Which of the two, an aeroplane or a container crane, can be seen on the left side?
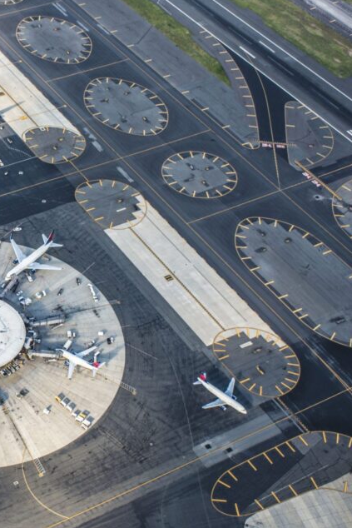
aeroplane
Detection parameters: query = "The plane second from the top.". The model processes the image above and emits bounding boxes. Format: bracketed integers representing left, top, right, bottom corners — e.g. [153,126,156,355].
[60,347,105,380]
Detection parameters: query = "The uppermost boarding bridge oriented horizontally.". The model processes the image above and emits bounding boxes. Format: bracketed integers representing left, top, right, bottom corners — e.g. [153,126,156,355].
[25,313,67,328]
